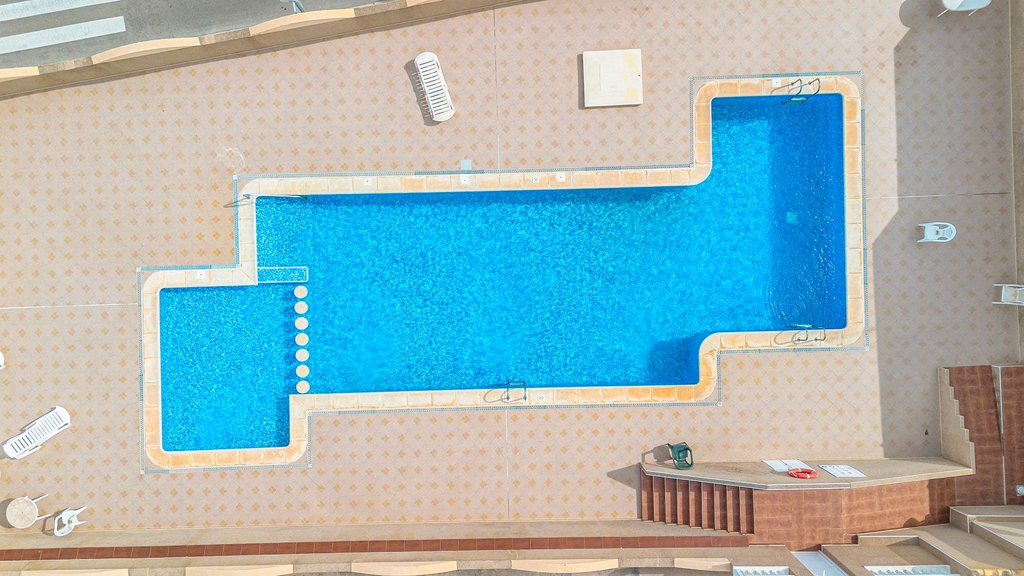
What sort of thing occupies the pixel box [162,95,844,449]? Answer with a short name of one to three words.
swimming pool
